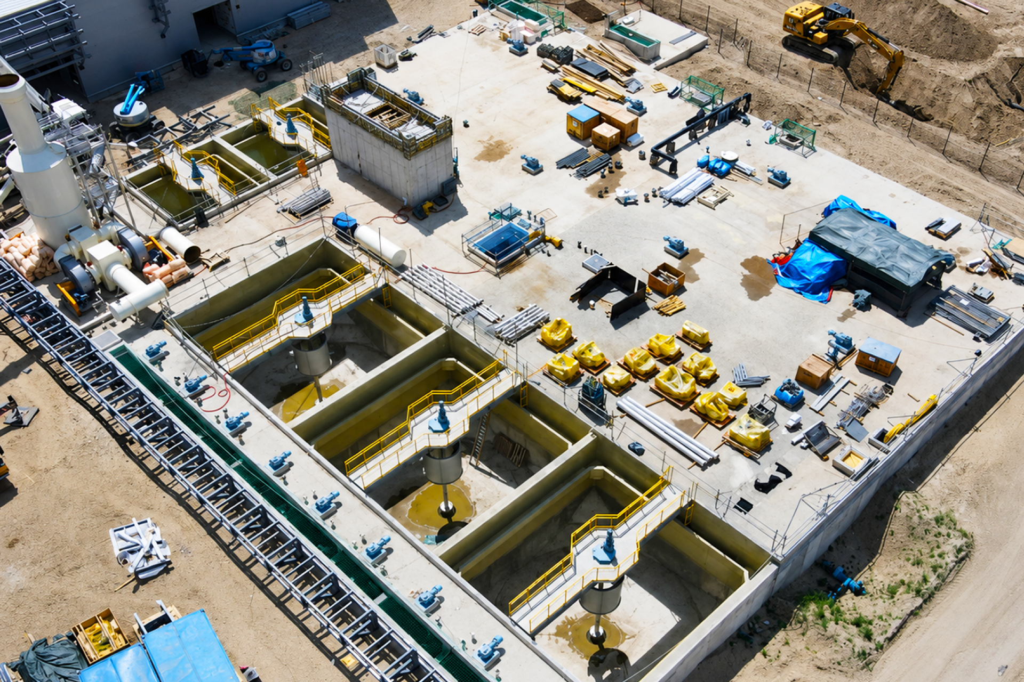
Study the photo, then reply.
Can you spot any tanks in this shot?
Yes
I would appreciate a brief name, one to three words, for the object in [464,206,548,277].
storage tank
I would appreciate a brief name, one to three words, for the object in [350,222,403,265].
storage tank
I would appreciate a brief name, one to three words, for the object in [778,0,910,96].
work vehicle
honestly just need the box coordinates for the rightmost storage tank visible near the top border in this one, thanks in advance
[604,23,660,63]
